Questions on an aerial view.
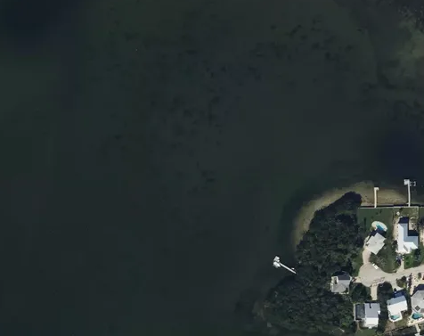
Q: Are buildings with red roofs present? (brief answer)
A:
No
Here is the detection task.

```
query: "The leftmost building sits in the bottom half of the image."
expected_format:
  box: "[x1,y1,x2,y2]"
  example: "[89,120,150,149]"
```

[332,274,352,293]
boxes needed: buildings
[387,295,409,315]
[364,303,382,327]
[397,222,420,251]
[368,232,387,254]
[413,288,424,314]
[332,274,352,293]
